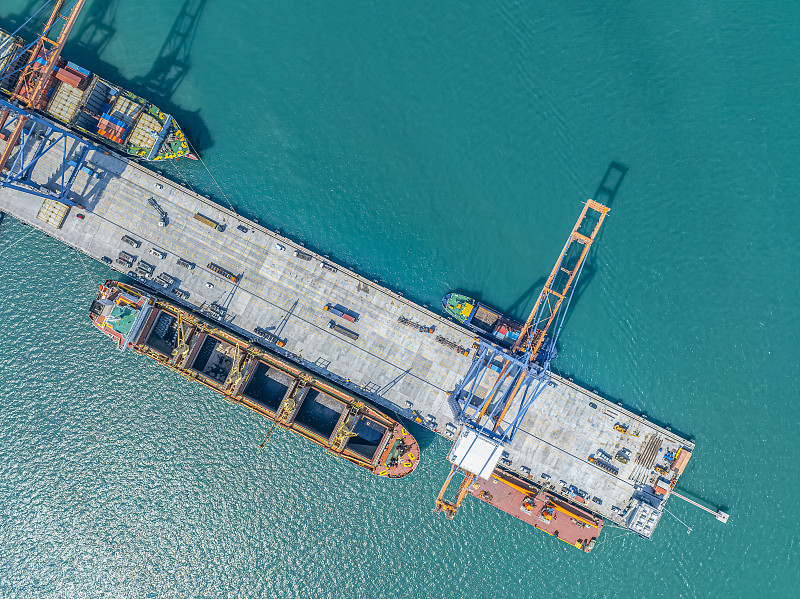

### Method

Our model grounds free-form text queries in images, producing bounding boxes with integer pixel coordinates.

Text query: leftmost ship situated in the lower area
[83,280,421,479]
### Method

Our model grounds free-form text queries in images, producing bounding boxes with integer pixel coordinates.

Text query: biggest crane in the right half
[429,198,612,523]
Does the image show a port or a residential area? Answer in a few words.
port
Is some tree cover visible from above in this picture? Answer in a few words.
No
